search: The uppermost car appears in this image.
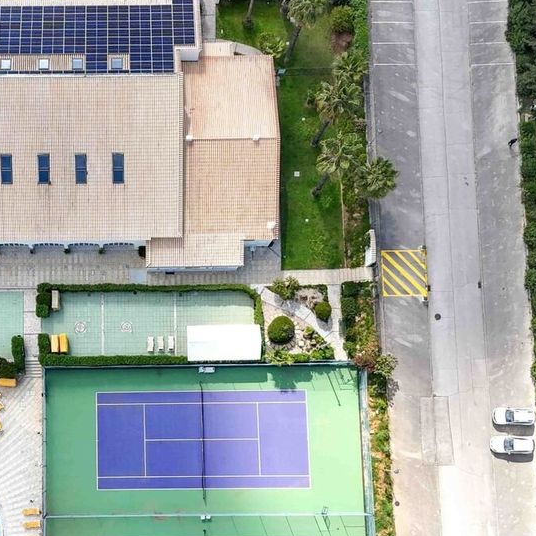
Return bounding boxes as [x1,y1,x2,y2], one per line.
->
[492,408,536,428]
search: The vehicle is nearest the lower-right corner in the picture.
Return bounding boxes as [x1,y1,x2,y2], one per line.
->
[490,436,536,457]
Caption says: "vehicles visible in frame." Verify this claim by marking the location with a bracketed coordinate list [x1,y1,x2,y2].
[490,436,536,457]
[492,408,536,428]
